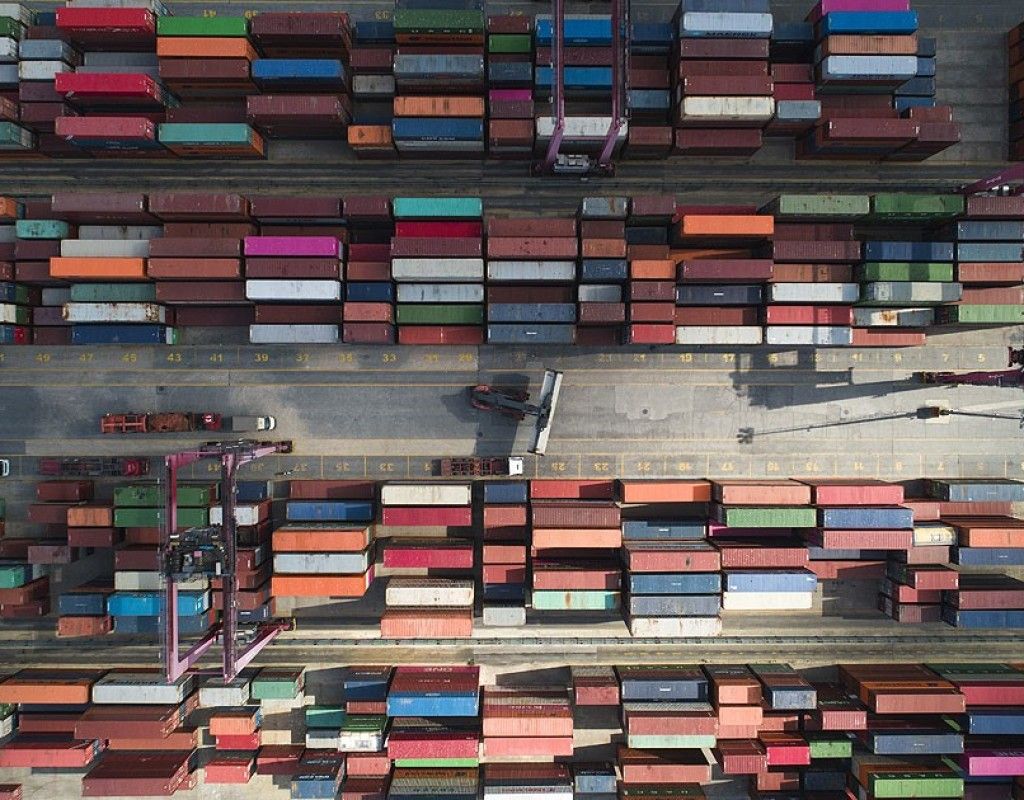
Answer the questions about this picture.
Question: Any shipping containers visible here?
Yes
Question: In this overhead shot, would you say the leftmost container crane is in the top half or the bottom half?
bottom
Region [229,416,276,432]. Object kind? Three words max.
vehicle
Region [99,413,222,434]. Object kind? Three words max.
truck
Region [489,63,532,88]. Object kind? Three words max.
shipping container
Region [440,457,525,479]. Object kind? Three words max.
truck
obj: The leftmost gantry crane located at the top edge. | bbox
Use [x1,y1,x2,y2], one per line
[530,0,629,176]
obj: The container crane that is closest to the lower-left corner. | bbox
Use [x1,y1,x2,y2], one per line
[162,439,295,683]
